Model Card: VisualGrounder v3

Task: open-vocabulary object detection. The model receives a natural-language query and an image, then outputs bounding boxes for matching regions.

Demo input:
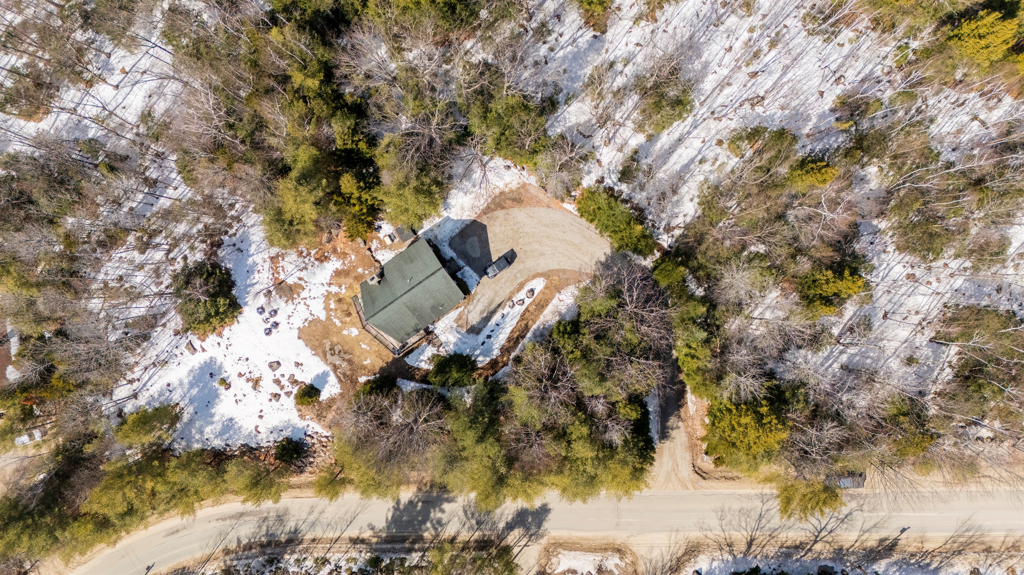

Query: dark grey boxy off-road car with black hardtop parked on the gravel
[485,253,512,276]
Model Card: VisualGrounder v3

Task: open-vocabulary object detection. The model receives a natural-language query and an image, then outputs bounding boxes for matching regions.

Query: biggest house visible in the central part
[361,239,466,343]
